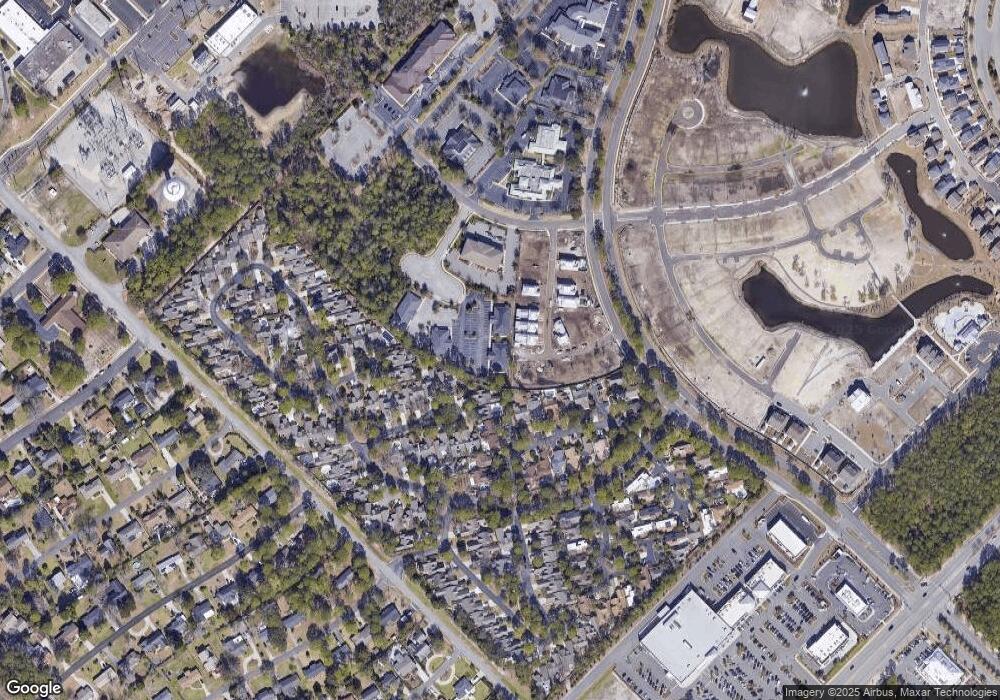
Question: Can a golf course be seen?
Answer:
No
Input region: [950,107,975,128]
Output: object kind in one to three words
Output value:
house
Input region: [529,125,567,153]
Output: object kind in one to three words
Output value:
building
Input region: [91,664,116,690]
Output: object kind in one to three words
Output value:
house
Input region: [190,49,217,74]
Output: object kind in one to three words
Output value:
building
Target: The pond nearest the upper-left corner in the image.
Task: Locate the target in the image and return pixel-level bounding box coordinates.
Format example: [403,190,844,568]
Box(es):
[234,43,326,116]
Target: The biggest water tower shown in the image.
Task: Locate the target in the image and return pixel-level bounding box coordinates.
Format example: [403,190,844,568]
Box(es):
[161,177,183,199]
